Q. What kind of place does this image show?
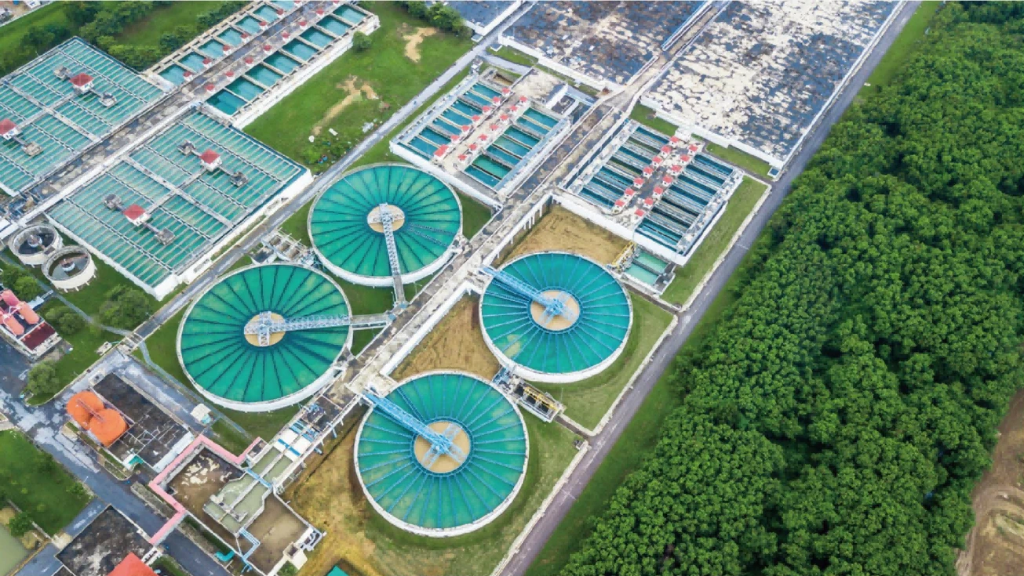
industrial area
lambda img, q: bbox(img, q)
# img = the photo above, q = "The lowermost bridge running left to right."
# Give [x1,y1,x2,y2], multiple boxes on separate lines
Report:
[244,308,362,344]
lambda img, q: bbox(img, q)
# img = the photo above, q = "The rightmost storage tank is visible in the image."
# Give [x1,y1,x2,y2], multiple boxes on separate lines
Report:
[478,247,634,383]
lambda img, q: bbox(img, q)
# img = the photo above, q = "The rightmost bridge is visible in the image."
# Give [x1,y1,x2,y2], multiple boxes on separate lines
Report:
[484,262,578,325]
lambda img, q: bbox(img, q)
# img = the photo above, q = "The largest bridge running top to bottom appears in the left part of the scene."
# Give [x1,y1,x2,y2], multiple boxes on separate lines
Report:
[368,200,405,284]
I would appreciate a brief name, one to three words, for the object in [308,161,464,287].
storage tank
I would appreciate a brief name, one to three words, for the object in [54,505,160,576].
building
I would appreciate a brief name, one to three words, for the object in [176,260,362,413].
storage tank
